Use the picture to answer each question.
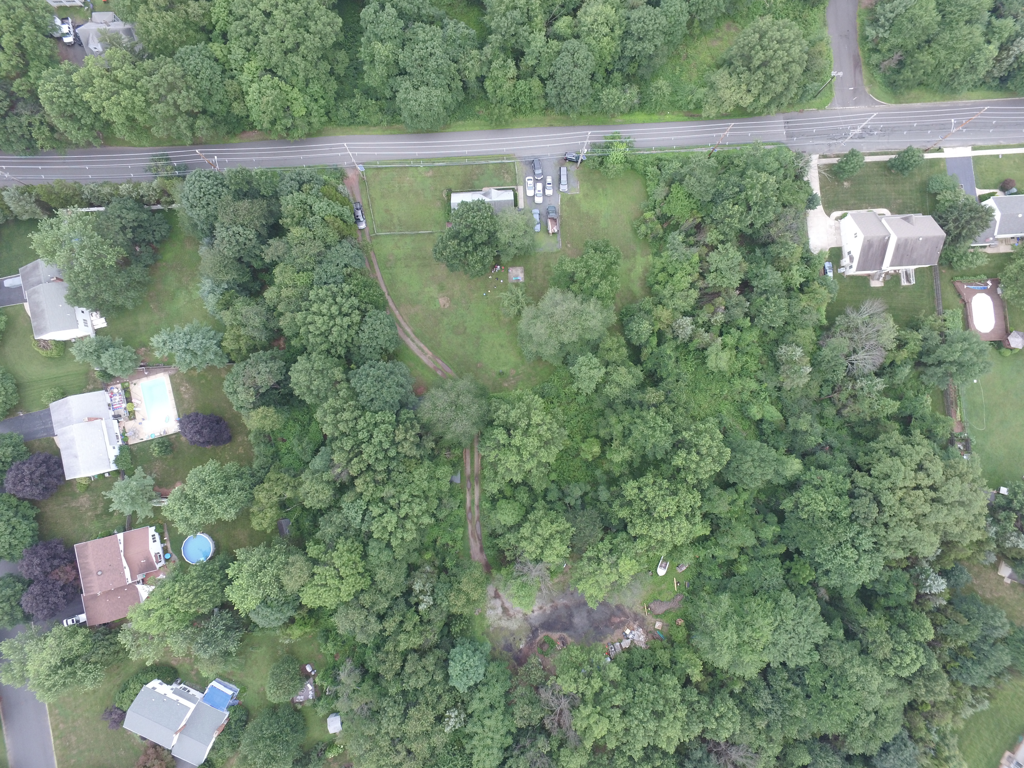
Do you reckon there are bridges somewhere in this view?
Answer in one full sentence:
No, there's no bridge here.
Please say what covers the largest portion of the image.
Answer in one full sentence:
The bulk of the photo consists of trees.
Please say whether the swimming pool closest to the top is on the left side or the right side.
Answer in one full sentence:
You can find the swimming pool closest to the top on the right side of the picture.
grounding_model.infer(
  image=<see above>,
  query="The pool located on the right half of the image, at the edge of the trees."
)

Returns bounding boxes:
[972,293,995,333]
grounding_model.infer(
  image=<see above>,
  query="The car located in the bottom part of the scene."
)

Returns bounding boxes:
[62,615,85,628]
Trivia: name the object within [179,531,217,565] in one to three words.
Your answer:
swimming pool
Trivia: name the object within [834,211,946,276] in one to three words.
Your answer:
house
